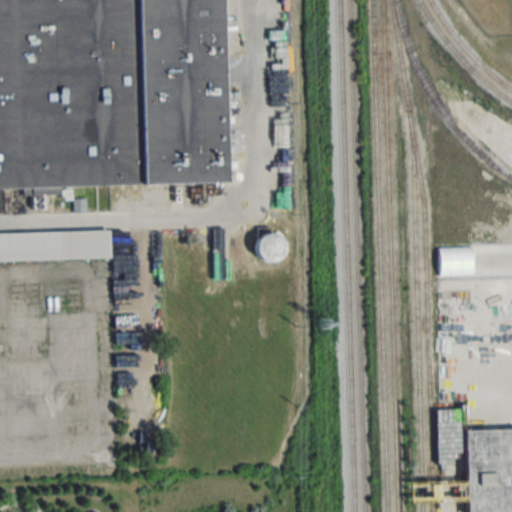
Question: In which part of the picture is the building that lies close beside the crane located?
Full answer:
You can find the building that lies close beside the crane in the bottom right area of the picture.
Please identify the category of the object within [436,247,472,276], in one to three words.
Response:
building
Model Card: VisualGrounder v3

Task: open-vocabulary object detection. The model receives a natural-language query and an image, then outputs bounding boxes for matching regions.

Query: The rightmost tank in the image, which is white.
[254,232,288,264]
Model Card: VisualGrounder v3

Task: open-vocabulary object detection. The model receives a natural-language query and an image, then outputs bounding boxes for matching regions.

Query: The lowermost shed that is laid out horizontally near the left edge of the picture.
[0,230,110,262]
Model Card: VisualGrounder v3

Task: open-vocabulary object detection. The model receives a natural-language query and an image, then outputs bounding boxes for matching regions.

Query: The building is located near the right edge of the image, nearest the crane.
[462,428,512,512]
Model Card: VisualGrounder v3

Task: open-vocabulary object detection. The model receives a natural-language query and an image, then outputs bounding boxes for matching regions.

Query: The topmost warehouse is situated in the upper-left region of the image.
[0,0,232,188]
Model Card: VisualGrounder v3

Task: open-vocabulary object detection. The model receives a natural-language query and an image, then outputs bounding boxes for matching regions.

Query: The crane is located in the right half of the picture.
[412,480,468,504]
